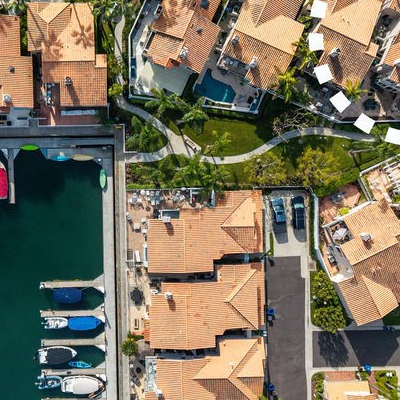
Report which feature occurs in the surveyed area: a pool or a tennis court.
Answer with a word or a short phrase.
pool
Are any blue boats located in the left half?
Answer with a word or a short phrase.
Yes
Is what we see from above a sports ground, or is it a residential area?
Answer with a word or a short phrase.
residential area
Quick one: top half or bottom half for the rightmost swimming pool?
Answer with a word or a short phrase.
top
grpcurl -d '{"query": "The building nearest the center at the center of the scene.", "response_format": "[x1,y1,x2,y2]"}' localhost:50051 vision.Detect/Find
[143,190,263,272]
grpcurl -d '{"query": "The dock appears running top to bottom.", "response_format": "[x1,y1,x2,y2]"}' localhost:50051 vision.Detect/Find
[41,150,113,400]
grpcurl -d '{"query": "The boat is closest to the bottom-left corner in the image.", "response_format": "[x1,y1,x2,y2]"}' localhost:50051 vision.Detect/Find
[33,377,62,389]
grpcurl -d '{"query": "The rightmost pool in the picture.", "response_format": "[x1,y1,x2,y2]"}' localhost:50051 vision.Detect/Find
[193,67,238,104]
